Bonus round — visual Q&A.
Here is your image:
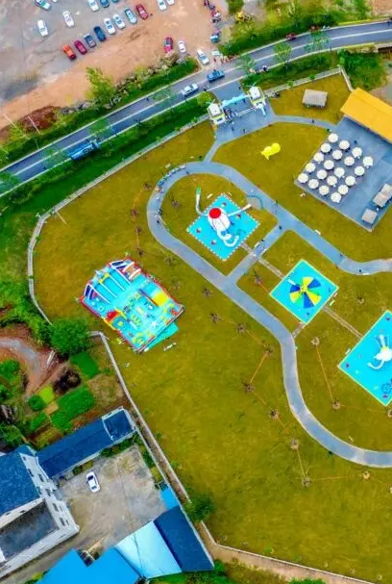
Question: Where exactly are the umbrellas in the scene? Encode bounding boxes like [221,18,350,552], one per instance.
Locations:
[335,168,346,181]
[328,176,339,189]
[329,133,340,146]
[307,164,317,175]
[309,180,320,191]
[320,186,331,198]
[315,152,325,165]
[340,140,350,153]
[364,156,375,170]
[352,147,364,159]
[355,167,367,179]
[318,170,328,182]
[331,193,342,205]
[322,143,333,155]
[299,174,310,186]
[324,160,335,172]
[345,156,355,169]
[346,176,357,189]
[338,185,349,197]
[333,150,344,161]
